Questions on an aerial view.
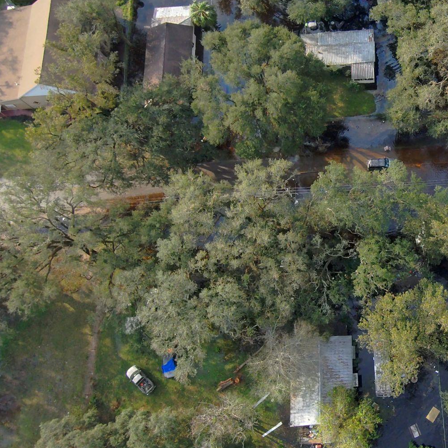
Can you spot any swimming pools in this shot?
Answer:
No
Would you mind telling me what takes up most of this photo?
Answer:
trees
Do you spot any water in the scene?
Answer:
Yes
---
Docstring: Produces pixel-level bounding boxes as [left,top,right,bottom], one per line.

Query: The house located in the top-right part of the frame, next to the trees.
[300,29,375,84]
